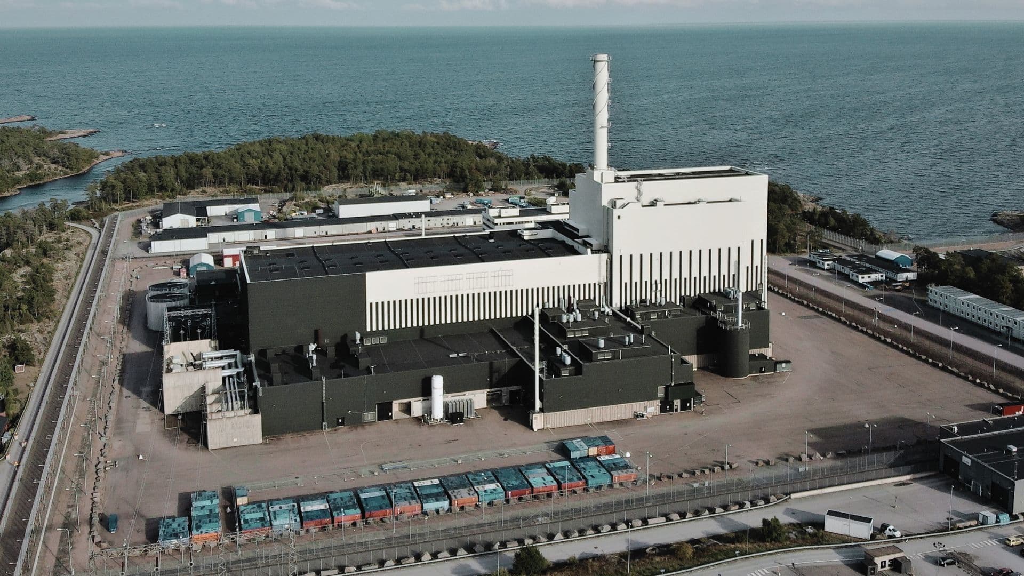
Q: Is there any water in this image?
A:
Yes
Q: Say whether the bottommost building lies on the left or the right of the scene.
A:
right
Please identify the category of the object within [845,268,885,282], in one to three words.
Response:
building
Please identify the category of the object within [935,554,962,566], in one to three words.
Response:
vehicle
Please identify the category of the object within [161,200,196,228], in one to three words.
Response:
building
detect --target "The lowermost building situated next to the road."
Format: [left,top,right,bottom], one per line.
[860,542,919,576]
